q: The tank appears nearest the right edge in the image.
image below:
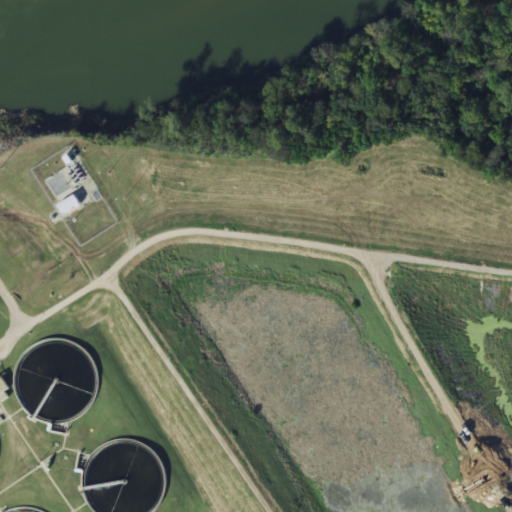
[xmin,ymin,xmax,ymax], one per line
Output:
[76,438,167,512]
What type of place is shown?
industrial area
